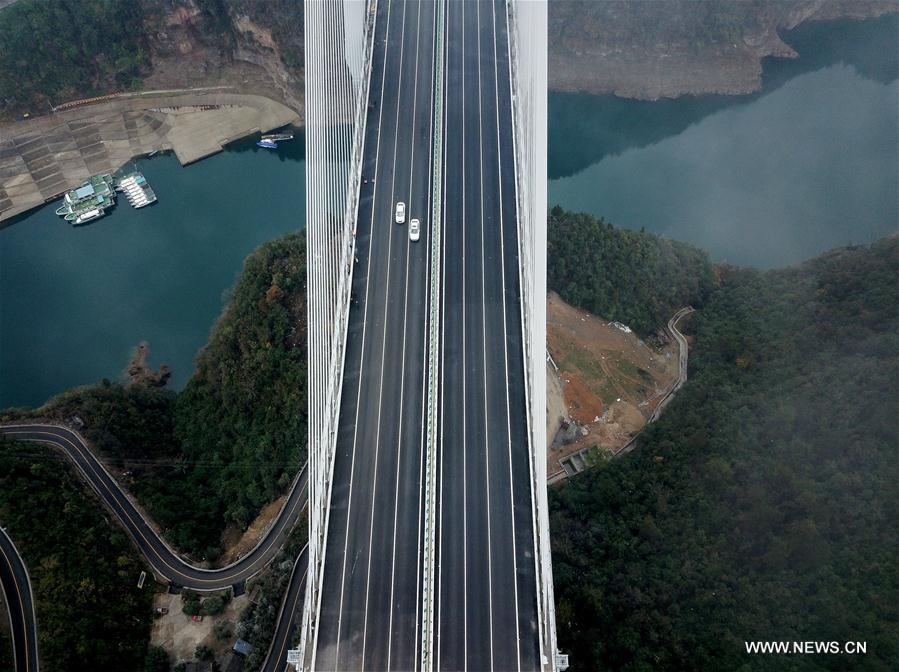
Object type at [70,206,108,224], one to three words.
boat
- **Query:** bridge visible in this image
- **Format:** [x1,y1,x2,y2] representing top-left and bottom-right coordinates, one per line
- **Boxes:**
[284,0,573,672]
